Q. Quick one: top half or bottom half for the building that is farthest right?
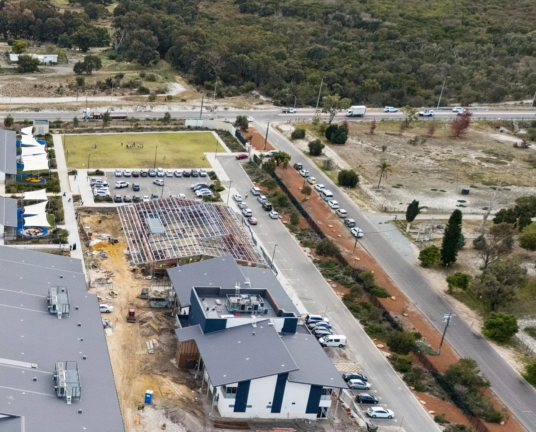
bottom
